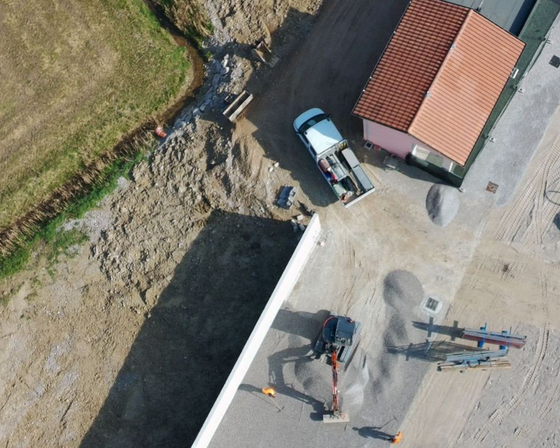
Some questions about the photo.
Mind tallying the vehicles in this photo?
2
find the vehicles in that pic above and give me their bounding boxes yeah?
[296,106,375,206]
[312,312,364,420]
